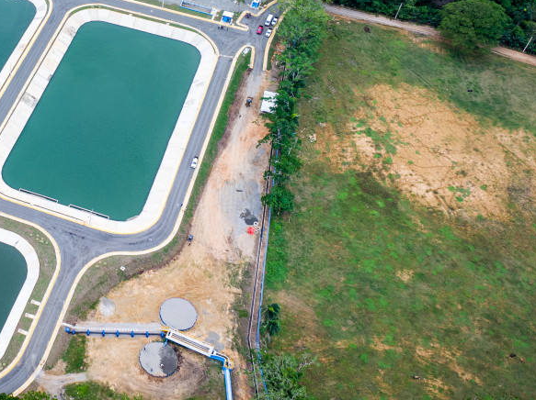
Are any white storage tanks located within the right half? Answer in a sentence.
No, looking within the right half, there is no white storage tank.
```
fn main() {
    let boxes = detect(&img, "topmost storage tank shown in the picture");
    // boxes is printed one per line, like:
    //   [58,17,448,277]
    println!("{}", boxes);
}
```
[159,294,199,330]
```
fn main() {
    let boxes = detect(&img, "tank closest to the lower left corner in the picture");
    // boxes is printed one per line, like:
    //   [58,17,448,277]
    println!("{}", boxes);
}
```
[139,342,180,379]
